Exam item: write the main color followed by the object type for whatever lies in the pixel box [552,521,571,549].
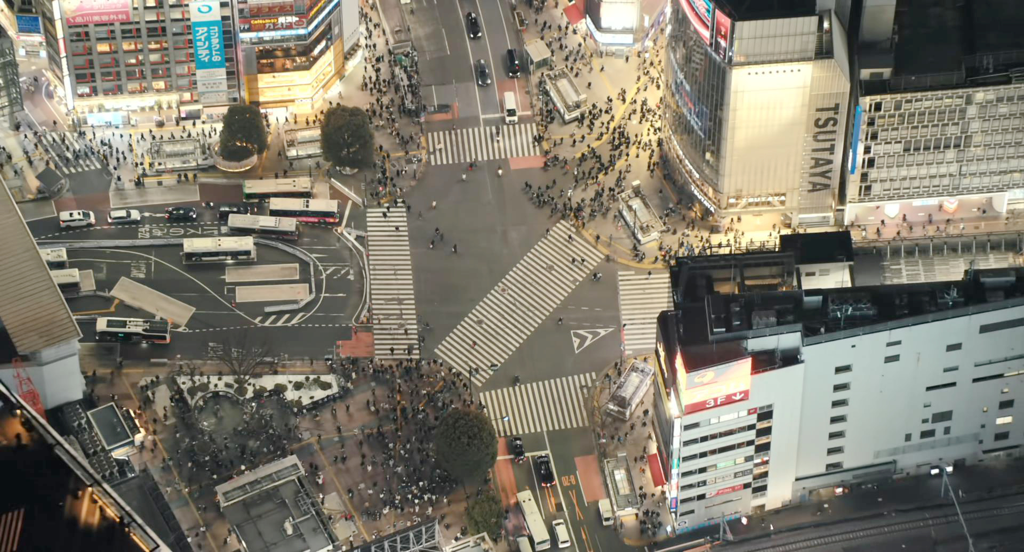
white car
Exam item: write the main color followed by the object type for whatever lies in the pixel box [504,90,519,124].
white vehicle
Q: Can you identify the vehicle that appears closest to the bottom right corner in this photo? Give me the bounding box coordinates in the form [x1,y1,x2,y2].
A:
[598,498,615,527]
